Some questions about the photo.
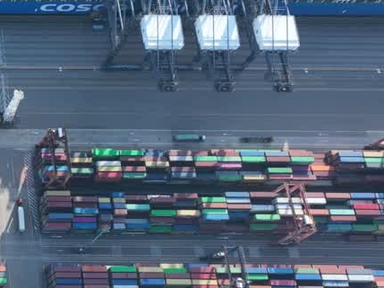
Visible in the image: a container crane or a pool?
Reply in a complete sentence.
Of the two, only a container crane appears.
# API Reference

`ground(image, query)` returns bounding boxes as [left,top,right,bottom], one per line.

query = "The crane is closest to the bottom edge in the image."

[204,242,252,288]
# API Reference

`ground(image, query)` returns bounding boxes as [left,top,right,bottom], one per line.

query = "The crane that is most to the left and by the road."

[31,130,65,191]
